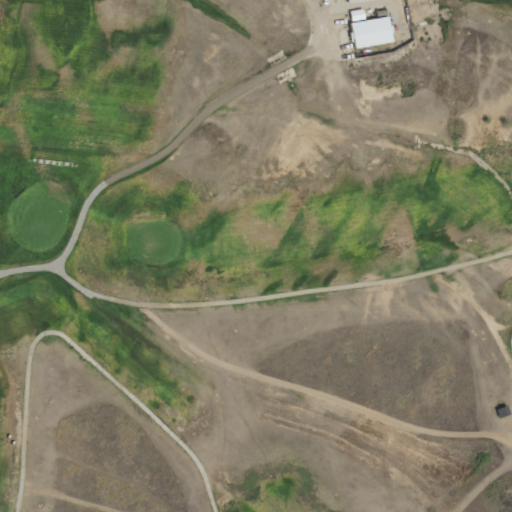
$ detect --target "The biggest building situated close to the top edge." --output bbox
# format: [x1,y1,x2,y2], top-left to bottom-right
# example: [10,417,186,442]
[351,15,396,48]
